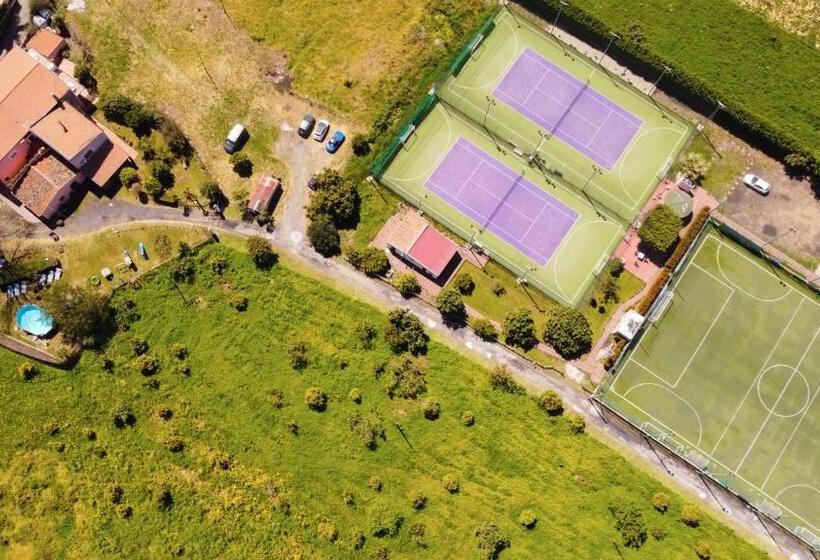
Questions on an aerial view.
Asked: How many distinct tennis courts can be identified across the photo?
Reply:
2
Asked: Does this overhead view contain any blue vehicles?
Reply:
Yes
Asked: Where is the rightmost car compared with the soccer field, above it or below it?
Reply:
above it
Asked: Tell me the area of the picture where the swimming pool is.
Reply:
left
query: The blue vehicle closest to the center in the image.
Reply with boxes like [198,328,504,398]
[326,130,344,154]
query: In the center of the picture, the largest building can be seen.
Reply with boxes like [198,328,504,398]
[386,213,458,281]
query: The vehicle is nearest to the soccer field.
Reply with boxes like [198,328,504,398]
[742,175,772,195]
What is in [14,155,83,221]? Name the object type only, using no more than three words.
house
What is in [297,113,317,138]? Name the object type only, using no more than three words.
car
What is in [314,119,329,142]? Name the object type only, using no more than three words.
car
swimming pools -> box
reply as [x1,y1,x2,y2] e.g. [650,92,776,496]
[15,304,55,338]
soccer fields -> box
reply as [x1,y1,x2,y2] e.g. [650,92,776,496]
[596,221,820,550]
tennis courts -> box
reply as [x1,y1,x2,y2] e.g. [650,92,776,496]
[372,93,634,313]
[438,4,698,219]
